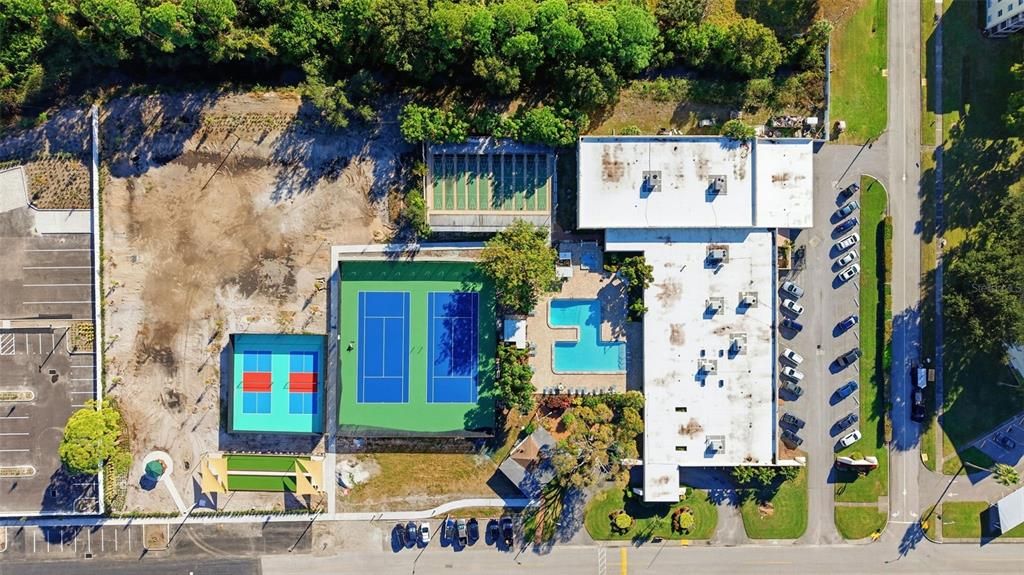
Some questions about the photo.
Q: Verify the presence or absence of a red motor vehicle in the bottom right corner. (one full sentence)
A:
No, no red motor vehicle can be made out in the bottom right corner.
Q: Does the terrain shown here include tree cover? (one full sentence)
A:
Yes, tree cover shows up in the scene.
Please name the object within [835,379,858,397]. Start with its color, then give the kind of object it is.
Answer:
blue car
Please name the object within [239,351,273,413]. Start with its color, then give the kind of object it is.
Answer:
blue sports court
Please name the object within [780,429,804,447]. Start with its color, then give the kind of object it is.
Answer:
black car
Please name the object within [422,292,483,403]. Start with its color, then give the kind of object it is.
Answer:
blue tennis court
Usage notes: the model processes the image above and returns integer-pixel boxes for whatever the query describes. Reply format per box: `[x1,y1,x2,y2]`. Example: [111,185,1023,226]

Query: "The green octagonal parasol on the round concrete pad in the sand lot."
[148,456,166,475]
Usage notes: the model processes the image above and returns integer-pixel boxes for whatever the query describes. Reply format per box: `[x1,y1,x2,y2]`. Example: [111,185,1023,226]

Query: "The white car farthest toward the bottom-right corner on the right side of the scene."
[840,430,861,447]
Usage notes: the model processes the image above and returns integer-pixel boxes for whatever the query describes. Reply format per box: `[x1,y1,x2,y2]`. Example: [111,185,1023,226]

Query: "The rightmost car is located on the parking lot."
[992,433,1015,450]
